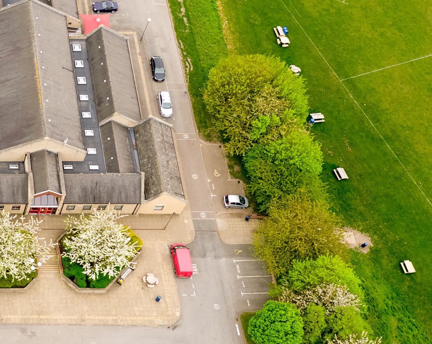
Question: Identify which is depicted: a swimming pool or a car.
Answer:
car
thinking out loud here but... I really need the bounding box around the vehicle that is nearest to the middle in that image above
[222,194,249,209]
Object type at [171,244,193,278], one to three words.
vehicle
